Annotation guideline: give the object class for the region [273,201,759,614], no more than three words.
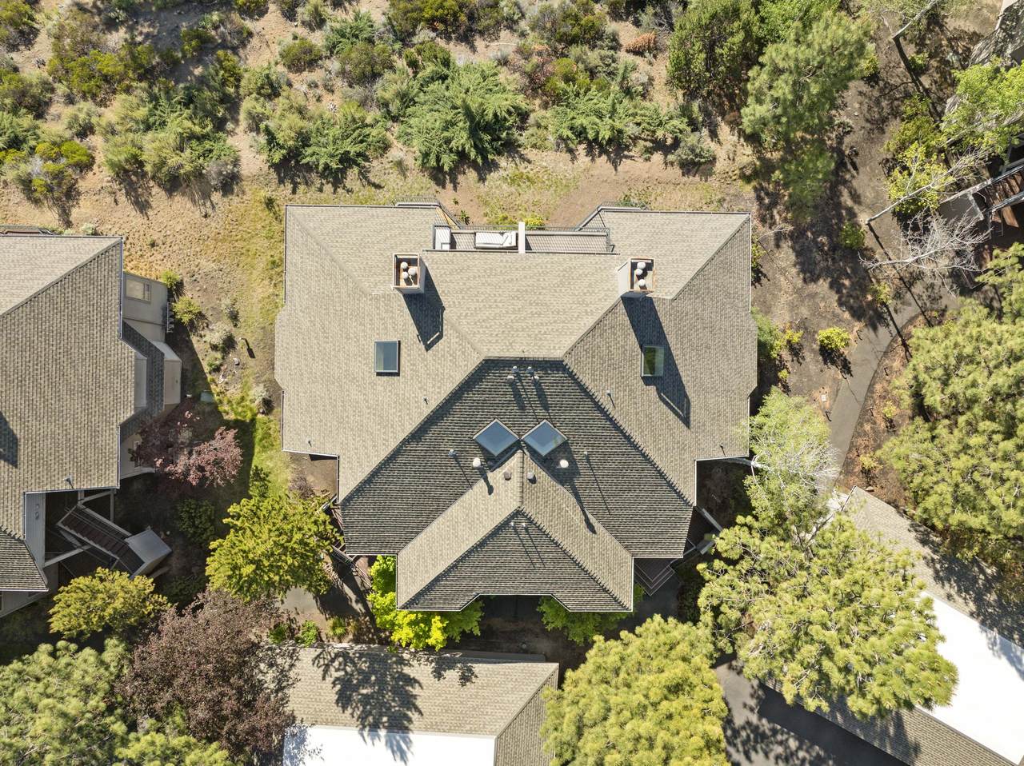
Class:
building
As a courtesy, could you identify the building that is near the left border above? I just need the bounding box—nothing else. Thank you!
[0,229,184,622]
